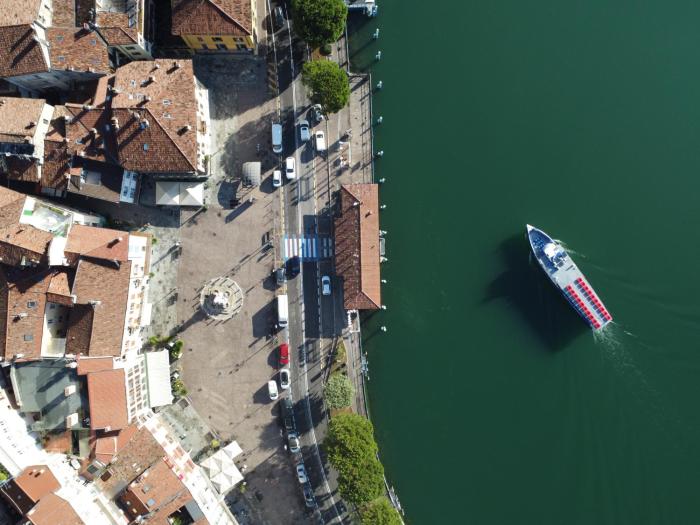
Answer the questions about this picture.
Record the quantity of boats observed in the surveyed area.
1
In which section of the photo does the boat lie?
right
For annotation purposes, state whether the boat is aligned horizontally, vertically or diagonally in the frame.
diagonally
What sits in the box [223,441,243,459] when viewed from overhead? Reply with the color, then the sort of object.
white umbrella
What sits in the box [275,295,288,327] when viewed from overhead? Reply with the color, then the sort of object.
white vehicle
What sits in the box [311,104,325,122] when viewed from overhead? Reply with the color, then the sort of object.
gray vehicle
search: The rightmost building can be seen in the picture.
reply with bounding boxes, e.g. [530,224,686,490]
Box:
[334,183,381,310]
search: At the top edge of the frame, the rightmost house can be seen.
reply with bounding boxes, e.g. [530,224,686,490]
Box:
[170,0,256,53]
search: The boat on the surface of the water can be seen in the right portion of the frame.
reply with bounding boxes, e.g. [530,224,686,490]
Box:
[527,224,615,332]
